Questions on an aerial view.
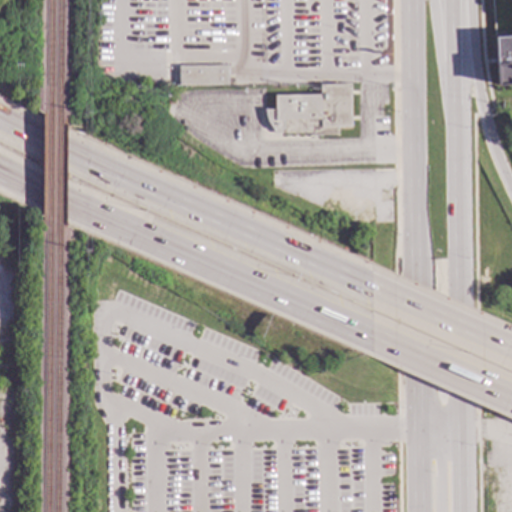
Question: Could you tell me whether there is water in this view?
No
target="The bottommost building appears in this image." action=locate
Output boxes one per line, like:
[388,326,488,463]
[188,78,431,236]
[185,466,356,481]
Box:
[268,83,354,134]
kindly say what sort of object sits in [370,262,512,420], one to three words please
overpass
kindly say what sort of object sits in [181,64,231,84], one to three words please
building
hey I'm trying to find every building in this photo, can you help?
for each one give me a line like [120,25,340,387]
[498,34,512,83]
[181,64,231,84]
[268,83,354,134]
